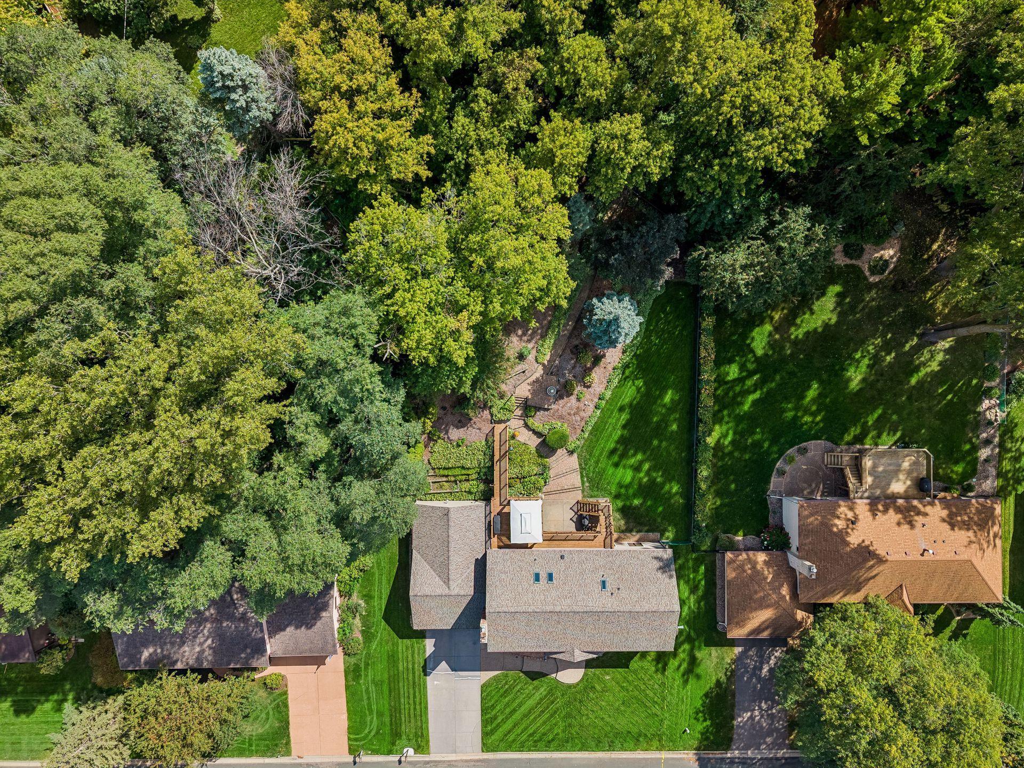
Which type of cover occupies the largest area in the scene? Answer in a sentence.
The scene is dominated by trees.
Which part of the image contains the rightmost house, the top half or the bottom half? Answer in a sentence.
The rightmost house sits in the bottom half of the picture.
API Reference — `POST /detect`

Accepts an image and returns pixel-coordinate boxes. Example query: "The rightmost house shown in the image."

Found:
[713,496,1003,639]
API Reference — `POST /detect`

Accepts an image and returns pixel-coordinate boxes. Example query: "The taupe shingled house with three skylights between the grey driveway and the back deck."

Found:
[410,500,682,664]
